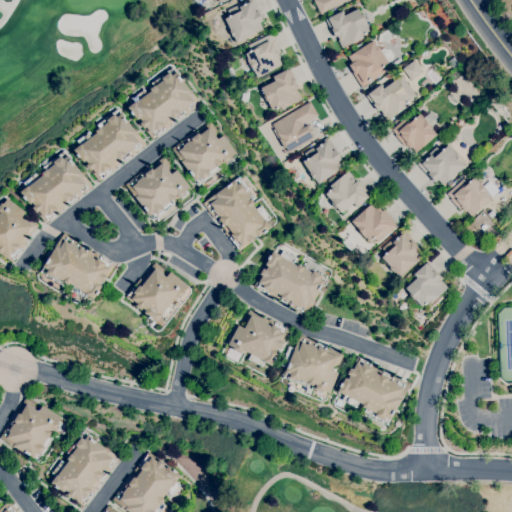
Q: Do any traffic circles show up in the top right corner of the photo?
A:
No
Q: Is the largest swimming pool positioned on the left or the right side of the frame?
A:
right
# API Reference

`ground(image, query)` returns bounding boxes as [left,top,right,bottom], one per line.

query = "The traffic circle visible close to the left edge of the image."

[0,347,38,398]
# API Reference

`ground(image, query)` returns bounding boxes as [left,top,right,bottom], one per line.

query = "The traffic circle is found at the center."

[210,258,240,288]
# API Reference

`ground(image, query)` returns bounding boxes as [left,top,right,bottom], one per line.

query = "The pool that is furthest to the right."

[421,47,449,67]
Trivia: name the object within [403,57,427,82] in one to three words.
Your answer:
building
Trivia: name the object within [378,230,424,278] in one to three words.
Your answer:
house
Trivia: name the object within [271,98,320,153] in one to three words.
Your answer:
house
